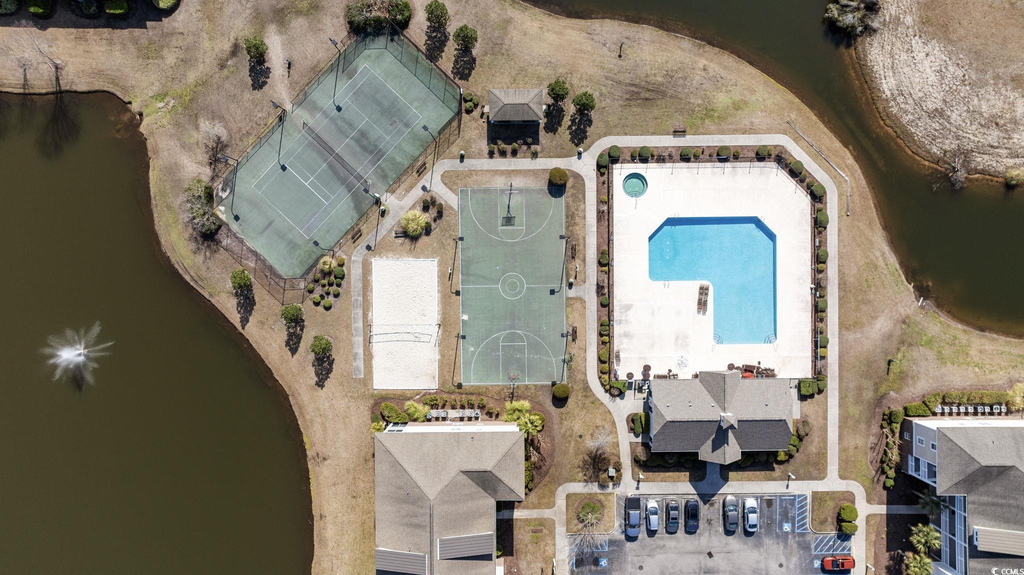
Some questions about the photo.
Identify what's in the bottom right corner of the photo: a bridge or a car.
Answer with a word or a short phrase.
car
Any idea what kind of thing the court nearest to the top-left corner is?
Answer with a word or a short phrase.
tennis court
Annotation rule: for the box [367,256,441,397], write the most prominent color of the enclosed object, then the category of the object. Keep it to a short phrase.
white sports court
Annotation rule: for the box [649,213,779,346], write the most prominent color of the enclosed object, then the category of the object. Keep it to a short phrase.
blue swimming pool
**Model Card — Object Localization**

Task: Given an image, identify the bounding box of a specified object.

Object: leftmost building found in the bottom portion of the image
[373,422,525,575]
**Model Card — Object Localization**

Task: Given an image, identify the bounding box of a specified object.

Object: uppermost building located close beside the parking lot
[649,371,796,463]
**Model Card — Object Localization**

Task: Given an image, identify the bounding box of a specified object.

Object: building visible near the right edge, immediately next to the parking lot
[903,418,1024,575]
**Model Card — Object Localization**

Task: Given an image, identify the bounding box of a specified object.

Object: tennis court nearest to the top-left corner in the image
[215,30,458,277]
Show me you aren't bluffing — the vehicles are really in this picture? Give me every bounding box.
[666,502,681,534]
[744,500,761,533]
[822,557,858,575]
[626,496,642,538]
[645,500,660,532]
[723,497,740,533]
[685,500,701,533]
